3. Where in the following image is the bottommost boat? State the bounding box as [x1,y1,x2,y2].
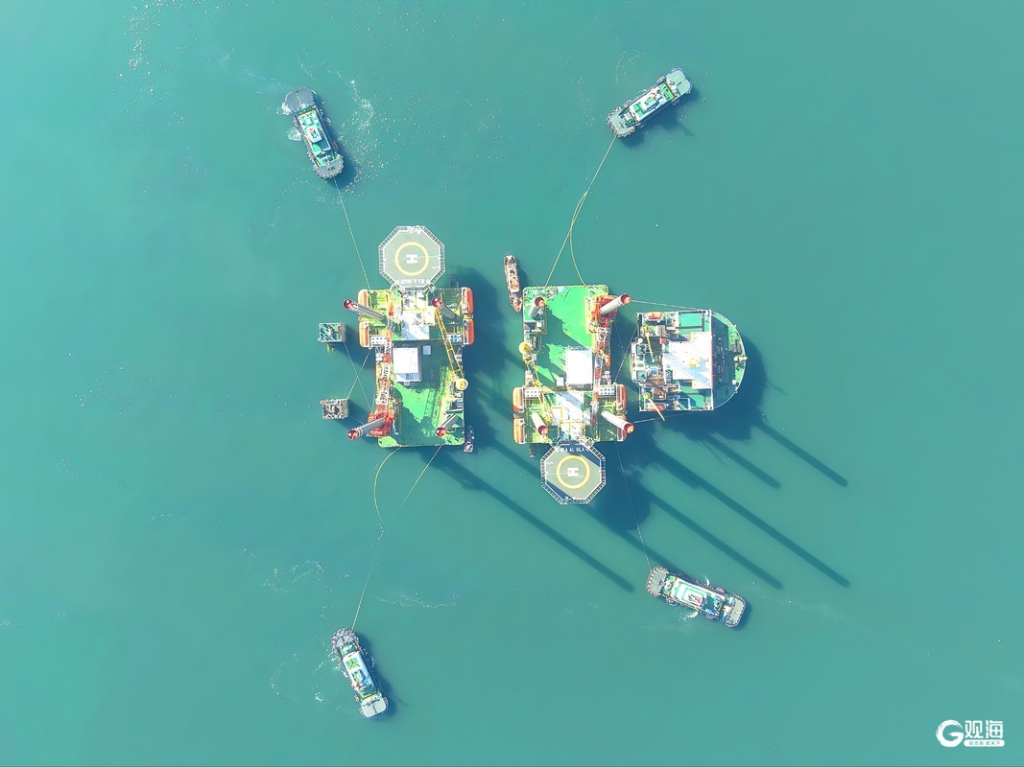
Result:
[334,628,387,717]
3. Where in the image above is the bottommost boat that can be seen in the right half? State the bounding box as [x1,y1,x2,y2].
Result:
[645,564,746,623]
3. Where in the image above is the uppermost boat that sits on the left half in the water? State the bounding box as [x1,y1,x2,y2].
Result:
[290,89,347,182]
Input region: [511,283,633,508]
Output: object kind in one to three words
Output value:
vessel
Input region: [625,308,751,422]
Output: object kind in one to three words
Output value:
ship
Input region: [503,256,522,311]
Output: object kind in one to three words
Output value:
boat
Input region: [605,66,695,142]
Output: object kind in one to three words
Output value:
boat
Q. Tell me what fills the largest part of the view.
water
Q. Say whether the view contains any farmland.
No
